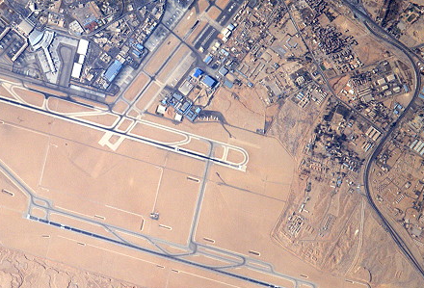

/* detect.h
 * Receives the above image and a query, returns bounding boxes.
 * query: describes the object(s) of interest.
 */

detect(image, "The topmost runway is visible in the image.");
[0,95,247,170]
